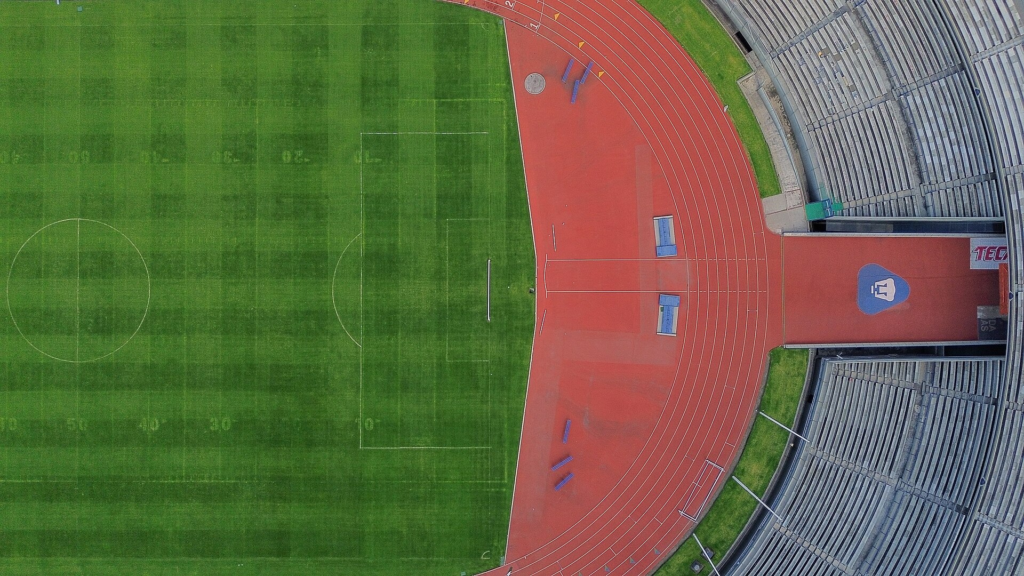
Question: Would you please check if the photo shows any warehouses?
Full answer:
No, there isn't any warehouse down there.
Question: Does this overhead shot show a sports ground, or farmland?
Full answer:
What you see here is a sports ground.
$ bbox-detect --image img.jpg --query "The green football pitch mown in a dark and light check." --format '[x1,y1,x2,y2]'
[0,0,536,576]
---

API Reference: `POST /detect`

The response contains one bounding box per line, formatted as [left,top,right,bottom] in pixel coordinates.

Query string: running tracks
[428,0,768,576]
